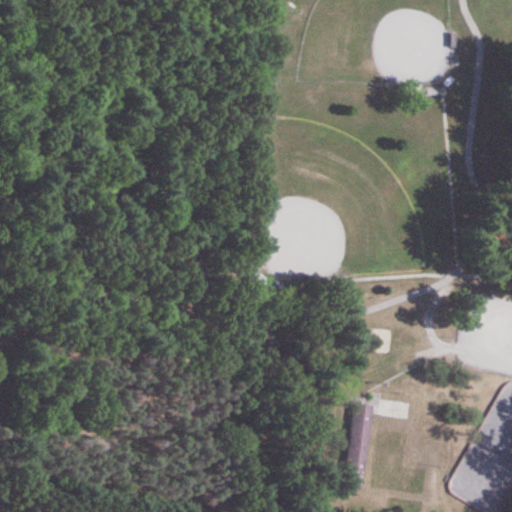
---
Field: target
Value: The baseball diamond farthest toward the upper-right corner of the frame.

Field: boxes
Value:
[297,0,452,86]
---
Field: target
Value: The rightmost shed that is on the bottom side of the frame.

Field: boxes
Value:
[348,404,374,479]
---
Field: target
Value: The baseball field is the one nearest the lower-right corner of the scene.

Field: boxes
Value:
[456,288,512,372]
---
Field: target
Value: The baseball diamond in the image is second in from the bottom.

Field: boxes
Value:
[262,117,424,280]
